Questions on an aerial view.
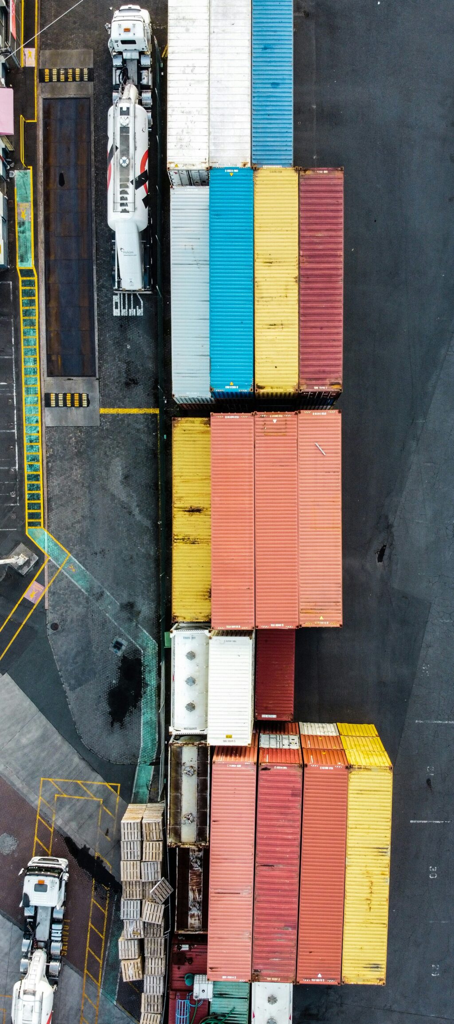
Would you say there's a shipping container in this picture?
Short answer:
Yes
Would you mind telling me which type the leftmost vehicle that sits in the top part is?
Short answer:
truck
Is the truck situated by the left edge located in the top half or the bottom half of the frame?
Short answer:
bottom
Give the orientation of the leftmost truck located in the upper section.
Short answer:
vertically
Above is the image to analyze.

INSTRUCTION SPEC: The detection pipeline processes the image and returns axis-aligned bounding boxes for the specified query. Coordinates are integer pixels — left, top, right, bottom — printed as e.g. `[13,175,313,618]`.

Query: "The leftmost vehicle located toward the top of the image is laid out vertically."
[103,5,153,293]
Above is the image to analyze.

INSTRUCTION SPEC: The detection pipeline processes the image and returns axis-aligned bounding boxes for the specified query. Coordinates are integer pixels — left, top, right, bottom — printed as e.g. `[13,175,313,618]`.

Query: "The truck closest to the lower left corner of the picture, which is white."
[12,848,70,1024]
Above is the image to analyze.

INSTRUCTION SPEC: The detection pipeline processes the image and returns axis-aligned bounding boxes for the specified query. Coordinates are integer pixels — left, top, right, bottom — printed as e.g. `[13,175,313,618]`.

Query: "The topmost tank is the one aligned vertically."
[174,627,209,728]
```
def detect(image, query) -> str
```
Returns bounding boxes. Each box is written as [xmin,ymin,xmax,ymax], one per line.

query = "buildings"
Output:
[0,0,21,68]
[0,137,10,268]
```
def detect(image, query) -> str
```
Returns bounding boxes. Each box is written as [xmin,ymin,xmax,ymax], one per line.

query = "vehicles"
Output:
[103,5,153,293]
[12,848,70,1024]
